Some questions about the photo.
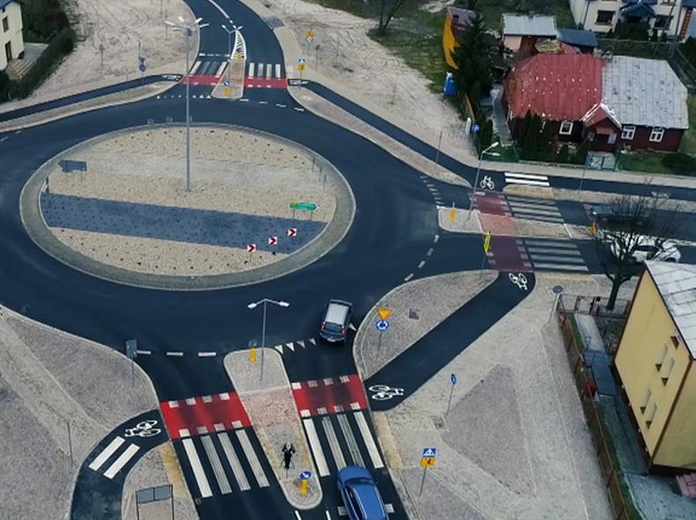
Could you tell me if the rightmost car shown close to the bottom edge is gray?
No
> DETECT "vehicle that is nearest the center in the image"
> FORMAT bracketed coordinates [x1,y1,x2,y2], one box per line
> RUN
[321,296,359,342]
